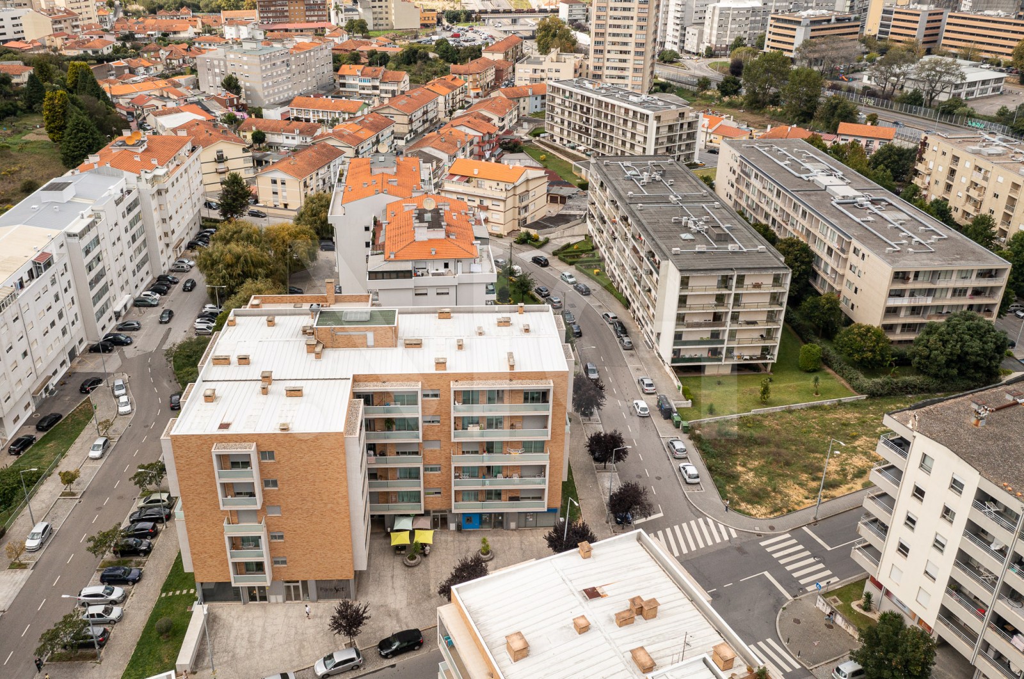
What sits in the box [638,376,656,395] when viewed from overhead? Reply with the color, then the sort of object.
gray car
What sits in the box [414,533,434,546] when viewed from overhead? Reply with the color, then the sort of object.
yellow umbrella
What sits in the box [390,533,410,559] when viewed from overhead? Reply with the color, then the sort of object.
yellow umbrella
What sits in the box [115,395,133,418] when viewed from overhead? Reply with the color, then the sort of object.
white car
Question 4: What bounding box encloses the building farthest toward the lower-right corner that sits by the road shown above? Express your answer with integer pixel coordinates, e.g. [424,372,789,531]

[851,367,1024,679]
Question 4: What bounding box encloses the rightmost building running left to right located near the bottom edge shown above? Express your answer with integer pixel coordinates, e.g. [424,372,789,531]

[431,526,792,679]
